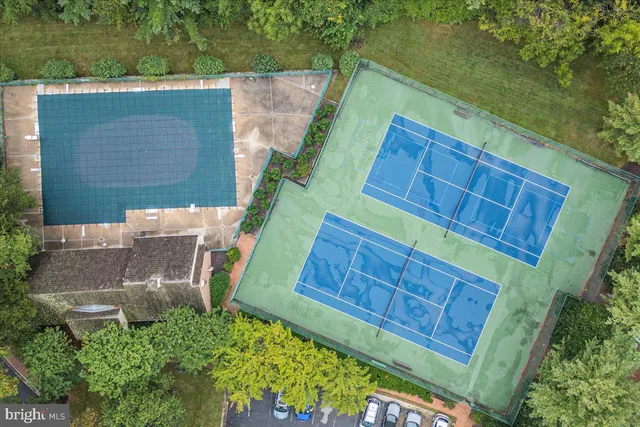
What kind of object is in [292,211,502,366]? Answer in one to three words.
tennis court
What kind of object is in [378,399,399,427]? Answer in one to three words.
car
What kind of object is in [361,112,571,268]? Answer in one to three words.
tennis court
